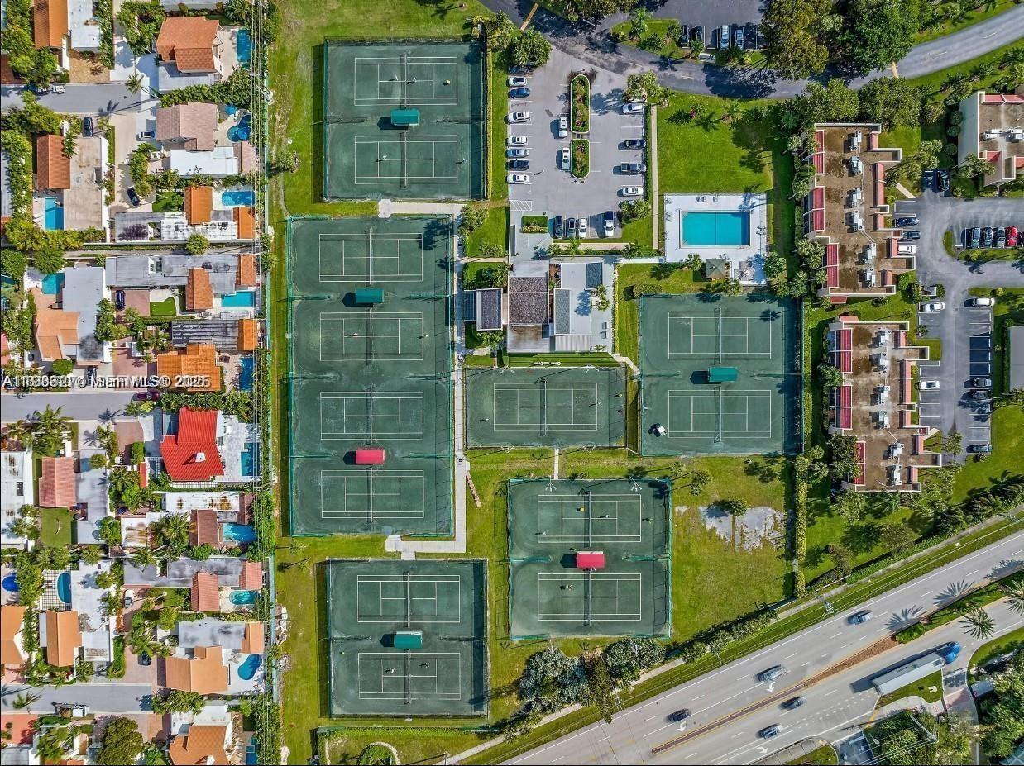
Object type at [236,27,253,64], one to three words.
swimming pool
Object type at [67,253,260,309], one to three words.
house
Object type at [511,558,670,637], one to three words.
tennis court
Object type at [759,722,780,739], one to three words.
car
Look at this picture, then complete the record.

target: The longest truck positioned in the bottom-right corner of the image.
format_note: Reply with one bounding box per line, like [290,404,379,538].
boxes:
[870,643,960,696]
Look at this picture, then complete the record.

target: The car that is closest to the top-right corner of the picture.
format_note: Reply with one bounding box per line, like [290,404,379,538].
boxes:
[936,172,948,193]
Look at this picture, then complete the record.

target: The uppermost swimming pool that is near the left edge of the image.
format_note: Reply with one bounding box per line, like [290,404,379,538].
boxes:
[43,195,65,231]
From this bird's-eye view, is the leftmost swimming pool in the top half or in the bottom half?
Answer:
bottom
